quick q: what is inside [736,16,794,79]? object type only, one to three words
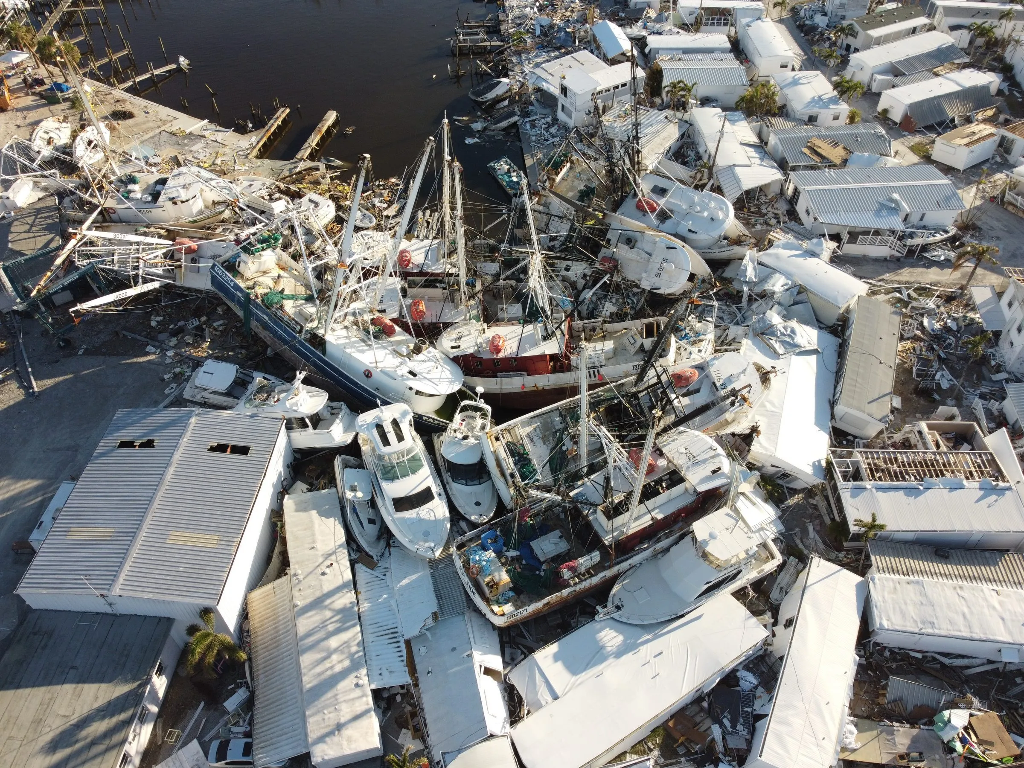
house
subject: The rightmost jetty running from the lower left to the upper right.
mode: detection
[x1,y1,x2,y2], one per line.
[293,112,341,162]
